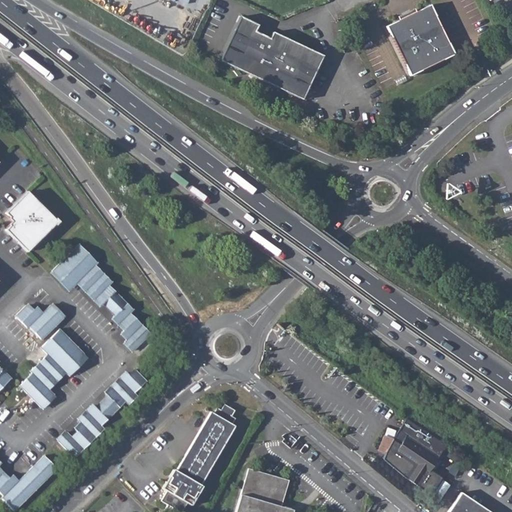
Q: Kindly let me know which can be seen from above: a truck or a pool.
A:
truck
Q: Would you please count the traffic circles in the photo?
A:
2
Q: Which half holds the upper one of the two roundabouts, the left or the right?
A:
right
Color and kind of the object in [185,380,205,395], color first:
white vehicle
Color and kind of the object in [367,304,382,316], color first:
white vehicle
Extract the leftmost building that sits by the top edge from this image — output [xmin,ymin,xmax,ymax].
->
[218,16,325,101]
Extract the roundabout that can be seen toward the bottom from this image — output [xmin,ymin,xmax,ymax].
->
[196,314,258,376]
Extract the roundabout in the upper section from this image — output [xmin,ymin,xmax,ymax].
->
[354,162,416,224]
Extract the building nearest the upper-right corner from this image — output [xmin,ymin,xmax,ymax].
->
[380,4,456,78]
